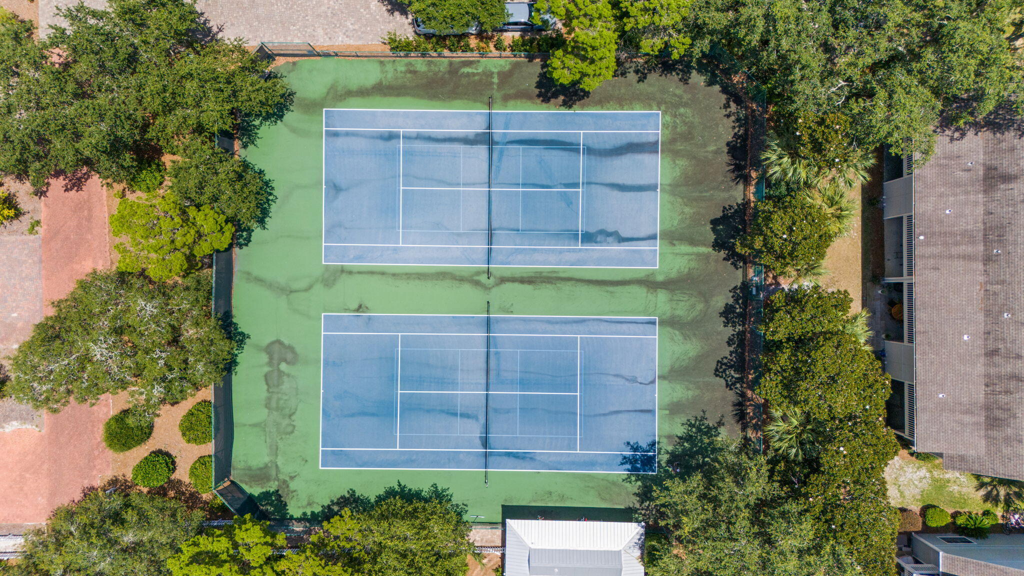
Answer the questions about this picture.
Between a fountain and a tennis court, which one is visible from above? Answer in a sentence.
Of the two, only a tennis court appears.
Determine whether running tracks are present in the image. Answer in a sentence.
No, the picture doesn't show any running track.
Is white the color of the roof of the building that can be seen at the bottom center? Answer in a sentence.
Yes, the roof of the building that can be seen at the bottom center is white.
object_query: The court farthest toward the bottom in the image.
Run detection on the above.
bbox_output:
[320,314,658,473]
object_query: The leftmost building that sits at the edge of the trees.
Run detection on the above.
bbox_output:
[504,518,646,576]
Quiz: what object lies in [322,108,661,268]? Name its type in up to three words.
tennis court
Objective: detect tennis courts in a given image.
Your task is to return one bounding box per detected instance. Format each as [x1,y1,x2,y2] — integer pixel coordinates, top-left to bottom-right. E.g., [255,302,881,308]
[320,314,658,473]
[322,108,661,268]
